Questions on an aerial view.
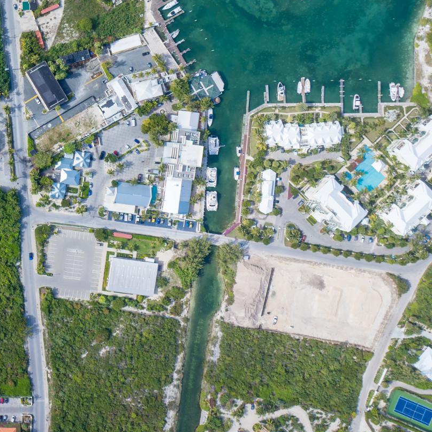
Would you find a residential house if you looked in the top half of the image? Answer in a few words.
Yes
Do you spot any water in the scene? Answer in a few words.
Yes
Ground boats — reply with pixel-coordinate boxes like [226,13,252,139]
[162,0,179,10]
[233,166,238,180]
[397,84,403,97]
[207,108,212,127]
[304,78,310,93]
[351,93,360,111]
[167,6,182,17]
[296,82,301,94]
[207,136,221,155]
[276,82,283,101]
[206,167,217,187]
[205,191,217,210]
[388,82,397,101]
[235,145,242,157]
